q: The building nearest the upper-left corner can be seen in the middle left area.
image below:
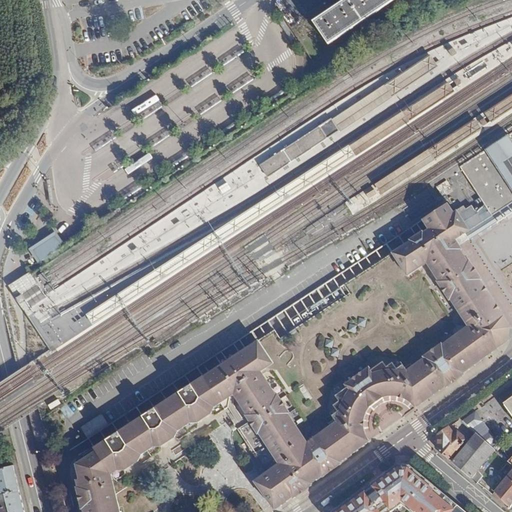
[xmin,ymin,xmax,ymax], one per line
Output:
[28,231,62,262]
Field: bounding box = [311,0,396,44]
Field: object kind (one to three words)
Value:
building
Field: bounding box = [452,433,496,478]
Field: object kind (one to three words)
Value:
house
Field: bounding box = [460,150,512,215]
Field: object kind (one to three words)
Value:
building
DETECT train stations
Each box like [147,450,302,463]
[8,16,512,352]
